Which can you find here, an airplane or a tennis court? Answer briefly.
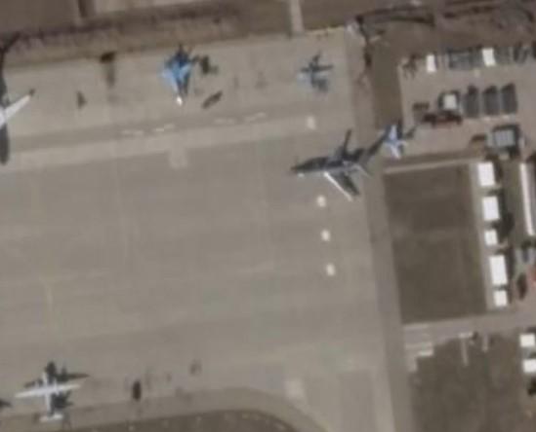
airplane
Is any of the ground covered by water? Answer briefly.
No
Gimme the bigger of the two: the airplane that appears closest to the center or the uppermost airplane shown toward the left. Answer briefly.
the airplane that appears closest to the center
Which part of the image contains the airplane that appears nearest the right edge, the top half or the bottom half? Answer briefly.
top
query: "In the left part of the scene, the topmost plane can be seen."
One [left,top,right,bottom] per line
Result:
[160,53,191,106]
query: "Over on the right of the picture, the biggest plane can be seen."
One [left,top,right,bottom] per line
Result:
[292,131,370,202]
